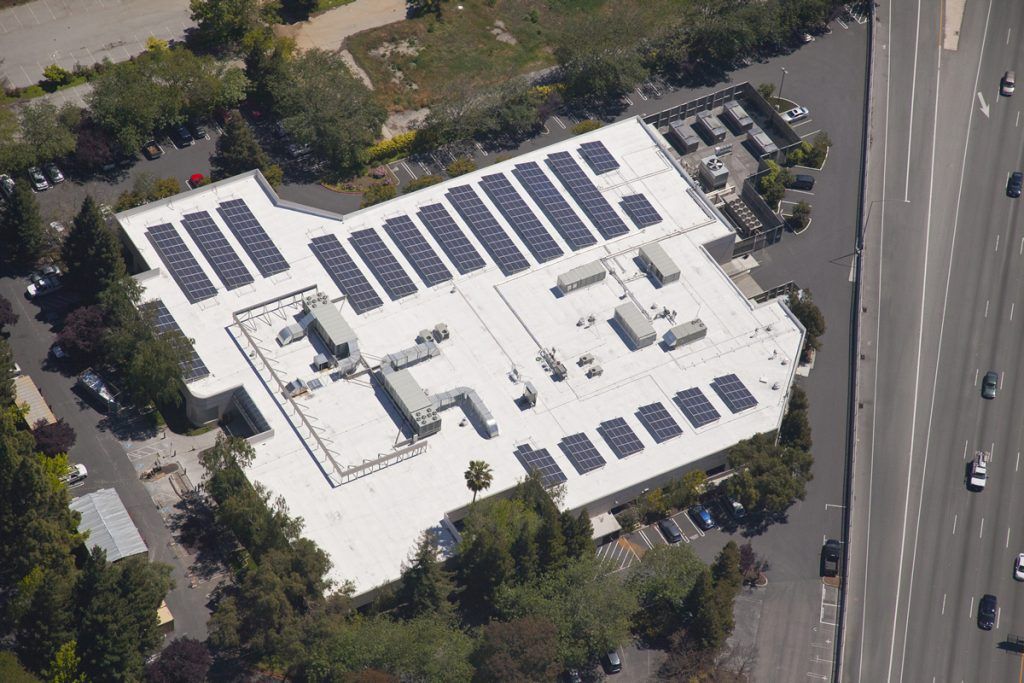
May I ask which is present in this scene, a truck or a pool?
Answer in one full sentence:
The image shows a truck.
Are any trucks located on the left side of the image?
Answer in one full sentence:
Yes, I can see a truck on the left side of the image.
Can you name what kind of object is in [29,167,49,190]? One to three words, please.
car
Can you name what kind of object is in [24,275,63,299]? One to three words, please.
truck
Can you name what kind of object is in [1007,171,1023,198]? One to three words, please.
car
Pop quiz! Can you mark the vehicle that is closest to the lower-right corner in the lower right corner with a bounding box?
[978,596,996,629]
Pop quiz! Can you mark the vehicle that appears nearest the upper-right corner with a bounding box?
[1002,69,1017,96]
